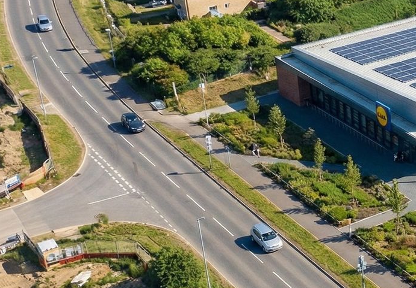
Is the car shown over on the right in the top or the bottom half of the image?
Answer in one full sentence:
The bottom half of the photo is where the car shown over on the right is.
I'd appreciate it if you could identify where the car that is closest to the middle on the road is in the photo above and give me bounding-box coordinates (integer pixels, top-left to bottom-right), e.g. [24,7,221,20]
[120,110,144,132]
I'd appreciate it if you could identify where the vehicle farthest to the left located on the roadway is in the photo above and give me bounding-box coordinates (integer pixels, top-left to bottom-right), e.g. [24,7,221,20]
[36,15,51,28]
